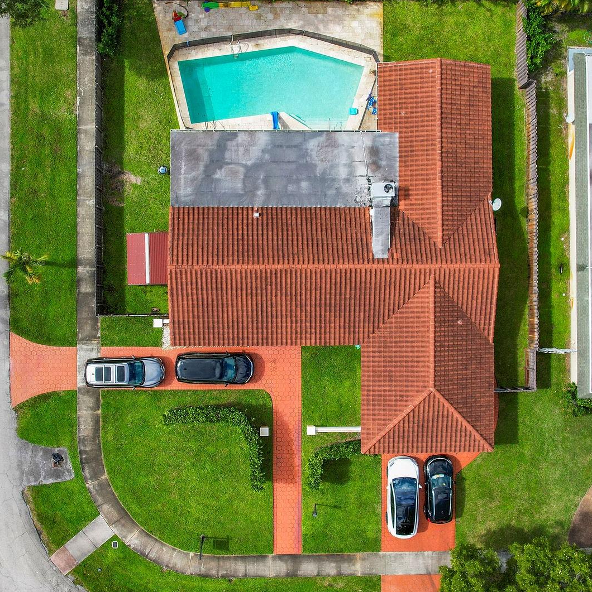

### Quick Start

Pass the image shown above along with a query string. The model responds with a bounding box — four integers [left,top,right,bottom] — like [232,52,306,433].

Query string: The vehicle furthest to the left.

[83,354,162,393]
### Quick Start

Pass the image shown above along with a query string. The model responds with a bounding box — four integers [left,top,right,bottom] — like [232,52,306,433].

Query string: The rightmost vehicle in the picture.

[424,458,460,525]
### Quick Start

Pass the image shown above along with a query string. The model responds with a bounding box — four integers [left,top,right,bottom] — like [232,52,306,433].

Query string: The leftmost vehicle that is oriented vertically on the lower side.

[385,459,424,538]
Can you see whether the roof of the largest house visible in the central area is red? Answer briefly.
Yes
